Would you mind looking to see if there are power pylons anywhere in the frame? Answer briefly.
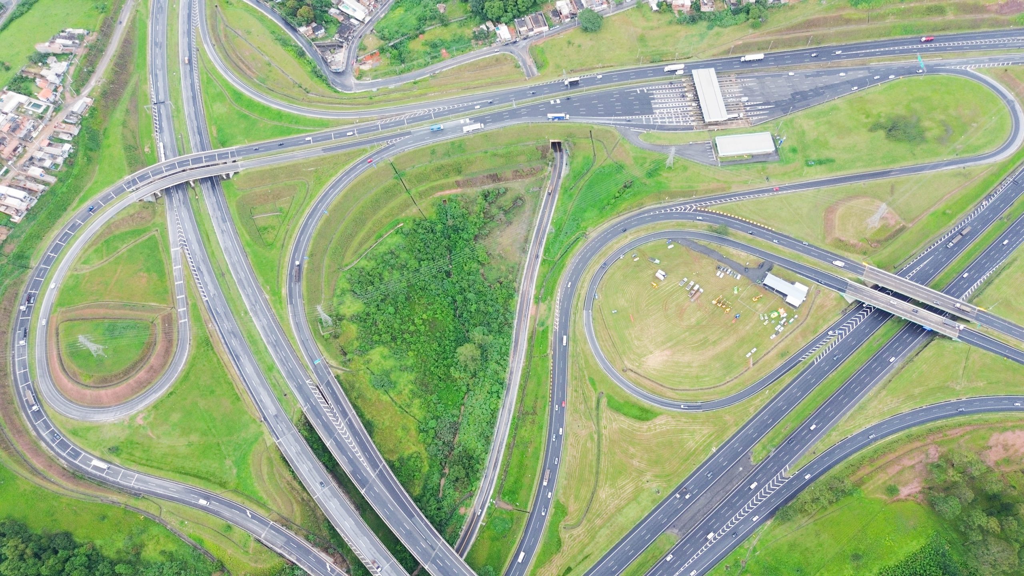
Yes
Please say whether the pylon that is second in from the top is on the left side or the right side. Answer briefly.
right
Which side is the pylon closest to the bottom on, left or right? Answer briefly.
left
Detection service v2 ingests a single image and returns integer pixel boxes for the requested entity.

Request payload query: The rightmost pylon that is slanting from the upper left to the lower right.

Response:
[318,304,335,329]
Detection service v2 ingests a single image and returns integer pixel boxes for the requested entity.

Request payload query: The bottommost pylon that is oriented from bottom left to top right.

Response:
[866,199,892,230]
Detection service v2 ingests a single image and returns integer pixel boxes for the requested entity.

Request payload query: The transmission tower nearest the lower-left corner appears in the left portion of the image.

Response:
[79,332,105,357]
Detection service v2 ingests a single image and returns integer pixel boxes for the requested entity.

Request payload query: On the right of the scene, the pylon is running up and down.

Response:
[664,144,676,170]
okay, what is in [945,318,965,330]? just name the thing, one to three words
vehicle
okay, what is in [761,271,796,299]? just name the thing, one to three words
shed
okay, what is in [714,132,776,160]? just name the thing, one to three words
building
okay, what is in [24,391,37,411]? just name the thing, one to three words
vehicle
